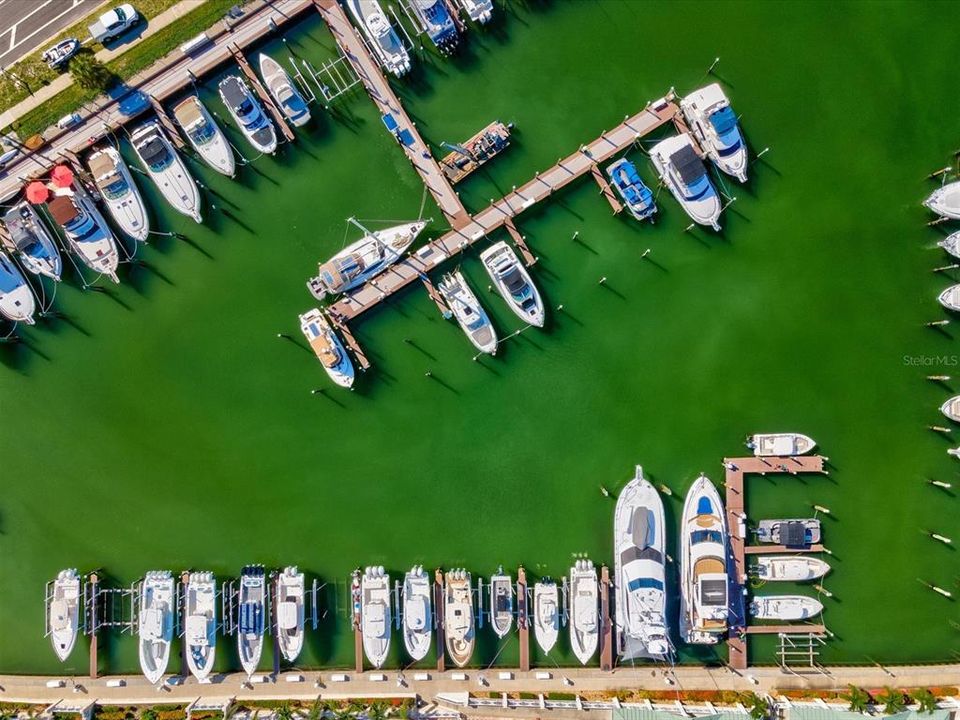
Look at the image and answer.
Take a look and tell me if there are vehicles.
Yes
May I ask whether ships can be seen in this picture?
Yes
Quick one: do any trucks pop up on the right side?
No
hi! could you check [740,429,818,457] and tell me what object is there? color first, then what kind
white boat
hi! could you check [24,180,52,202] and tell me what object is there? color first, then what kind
red umbrella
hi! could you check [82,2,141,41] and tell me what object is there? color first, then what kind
white truck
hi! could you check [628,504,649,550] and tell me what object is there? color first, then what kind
gray boat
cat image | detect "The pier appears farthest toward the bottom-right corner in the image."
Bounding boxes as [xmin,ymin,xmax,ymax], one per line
[715,454,833,669]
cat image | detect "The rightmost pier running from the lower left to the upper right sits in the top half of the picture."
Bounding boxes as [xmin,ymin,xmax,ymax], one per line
[331,95,707,368]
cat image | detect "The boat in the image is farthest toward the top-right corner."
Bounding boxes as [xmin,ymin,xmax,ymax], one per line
[920,172,960,224]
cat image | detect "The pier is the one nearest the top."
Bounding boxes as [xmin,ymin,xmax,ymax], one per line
[441,0,468,36]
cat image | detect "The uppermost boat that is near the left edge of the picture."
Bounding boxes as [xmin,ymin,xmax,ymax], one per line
[39,38,84,69]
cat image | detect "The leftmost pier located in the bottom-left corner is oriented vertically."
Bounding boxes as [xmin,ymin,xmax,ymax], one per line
[82,572,106,674]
